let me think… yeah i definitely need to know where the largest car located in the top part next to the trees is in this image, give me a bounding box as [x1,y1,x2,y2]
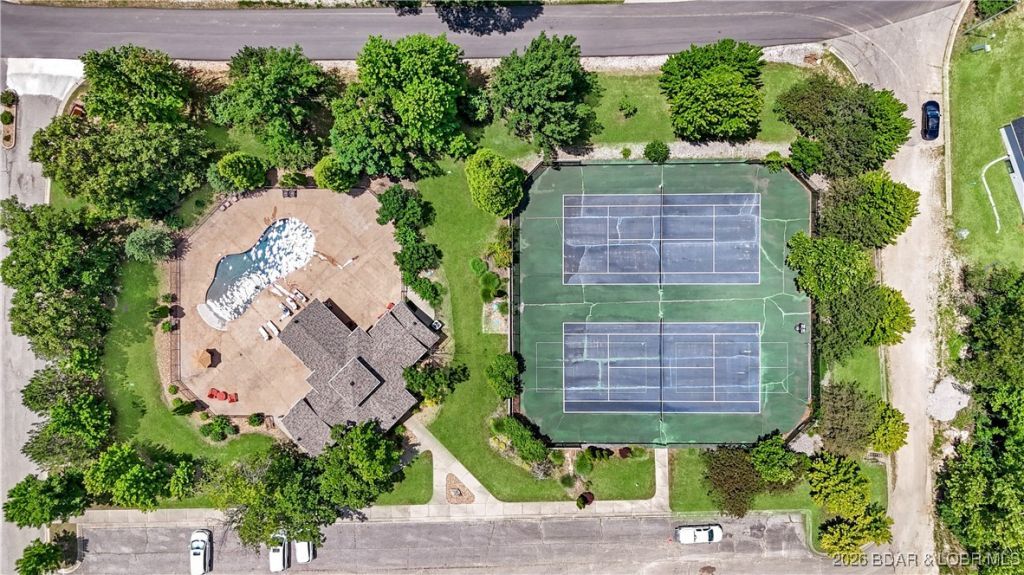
[918,102,942,141]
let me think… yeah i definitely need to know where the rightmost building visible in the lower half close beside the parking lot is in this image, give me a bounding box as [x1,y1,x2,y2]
[278,298,440,456]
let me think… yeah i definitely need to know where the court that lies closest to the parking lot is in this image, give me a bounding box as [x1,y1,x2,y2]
[534,314,787,423]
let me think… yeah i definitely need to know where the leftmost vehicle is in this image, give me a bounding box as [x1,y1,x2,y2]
[189,529,213,575]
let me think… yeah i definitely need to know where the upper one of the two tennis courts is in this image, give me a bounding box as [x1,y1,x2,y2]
[563,184,761,293]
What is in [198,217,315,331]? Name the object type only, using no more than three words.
swimming pool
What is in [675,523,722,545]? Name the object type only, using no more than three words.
truck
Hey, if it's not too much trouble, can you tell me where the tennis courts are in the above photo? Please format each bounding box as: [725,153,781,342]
[563,184,761,293]
[534,314,787,423]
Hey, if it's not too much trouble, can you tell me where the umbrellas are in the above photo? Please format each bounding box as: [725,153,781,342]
[199,348,214,368]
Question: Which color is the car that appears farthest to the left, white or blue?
white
